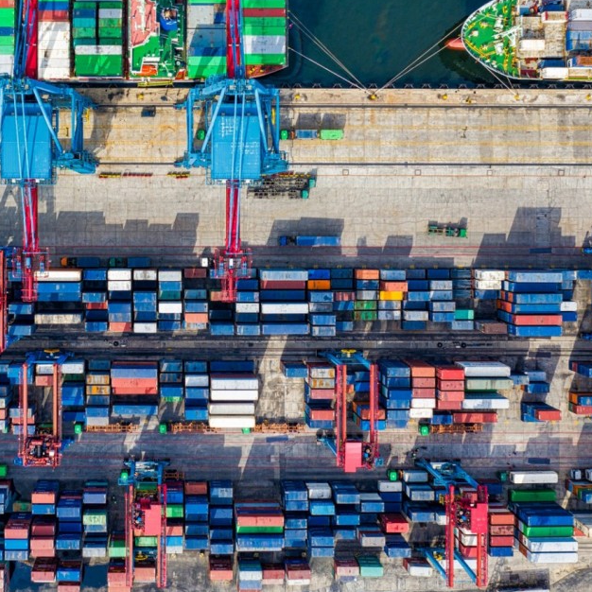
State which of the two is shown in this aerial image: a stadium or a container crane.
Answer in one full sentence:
The image shows a container crane.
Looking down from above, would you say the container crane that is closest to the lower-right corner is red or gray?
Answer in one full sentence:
The container crane that is closest to the lower-right corner is red.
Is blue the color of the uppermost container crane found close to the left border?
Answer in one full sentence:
Yes, the uppermost container crane found close to the left border is indeed blue.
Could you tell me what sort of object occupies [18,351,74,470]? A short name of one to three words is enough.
container crane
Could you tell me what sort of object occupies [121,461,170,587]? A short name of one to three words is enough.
container crane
